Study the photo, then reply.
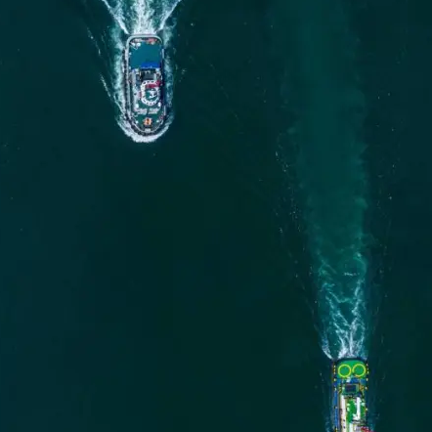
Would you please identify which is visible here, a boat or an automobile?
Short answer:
boat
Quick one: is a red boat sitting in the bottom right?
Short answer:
No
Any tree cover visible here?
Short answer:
No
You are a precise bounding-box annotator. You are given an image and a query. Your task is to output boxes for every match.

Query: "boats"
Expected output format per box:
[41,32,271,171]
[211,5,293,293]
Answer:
[124,37,165,139]
[331,360,376,432]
